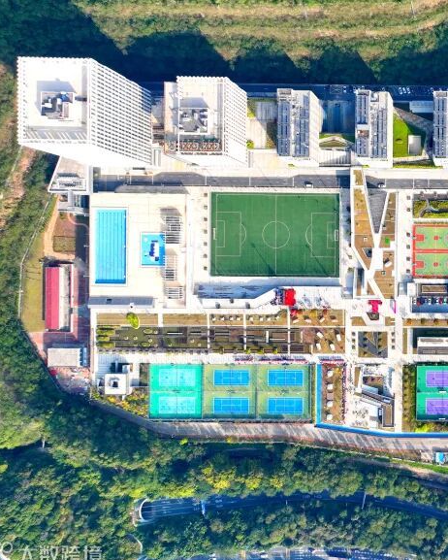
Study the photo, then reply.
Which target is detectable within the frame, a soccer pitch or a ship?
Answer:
soccer pitch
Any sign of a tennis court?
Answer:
Yes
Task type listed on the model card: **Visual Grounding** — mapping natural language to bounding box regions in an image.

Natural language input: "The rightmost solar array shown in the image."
[436,98,448,159]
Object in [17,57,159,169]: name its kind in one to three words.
building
